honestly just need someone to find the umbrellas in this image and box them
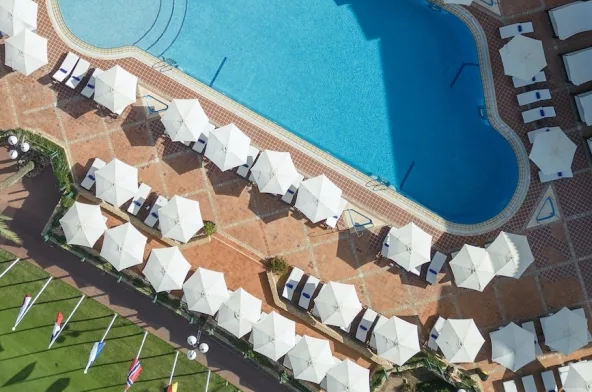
[101,222,147,270]
[491,321,534,371]
[161,100,209,142]
[388,222,432,271]
[0,0,39,36]
[315,280,362,328]
[326,359,369,392]
[296,175,342,223]
[4,29,47,76]
[252,312,295,361]
[206,124,252,171]
[61,201,107,247]
[218,290,261,338]
[435,318,484,361]
[449,244,496,291]
[158,195,203,243]
[143,246,191,291]
[183,268,229,315]
[487,232,535,278]
[95,65,138,113]
[375,316,419,365]
[541,307,585,355]
[562,360,592,392]
[95,158,138,206]
[287,337,334,384]
[529,127,576,174]
[251,150,299,194]
[500,34,545,82]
